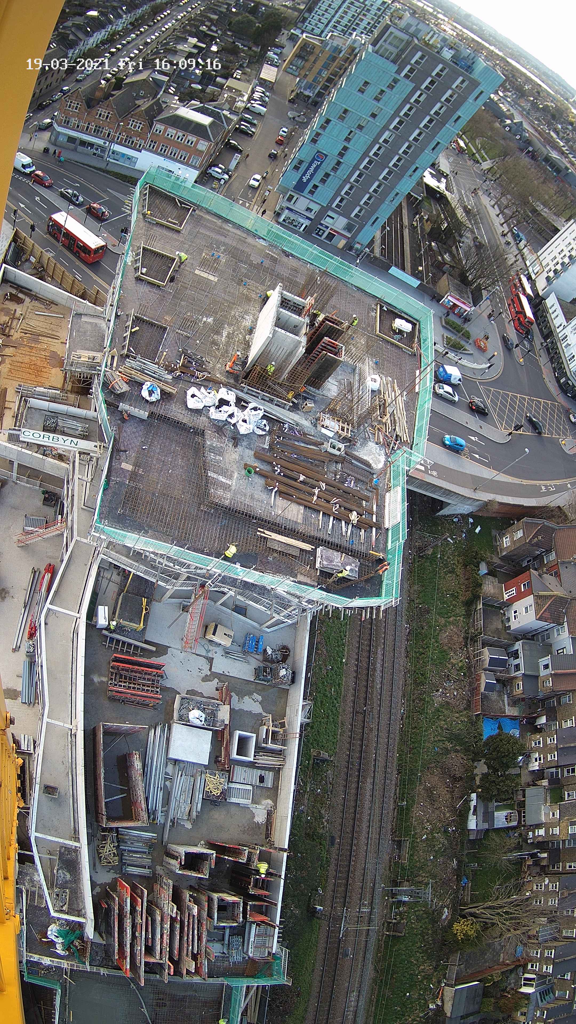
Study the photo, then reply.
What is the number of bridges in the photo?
1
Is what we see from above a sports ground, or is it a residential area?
residential area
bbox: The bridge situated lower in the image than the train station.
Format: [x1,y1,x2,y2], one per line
[392,463,494,515]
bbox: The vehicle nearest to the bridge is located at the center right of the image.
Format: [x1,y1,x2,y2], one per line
[443,435,472,453]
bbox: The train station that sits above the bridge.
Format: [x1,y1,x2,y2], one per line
[370,168,474,299]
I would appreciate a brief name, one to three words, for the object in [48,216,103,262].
bus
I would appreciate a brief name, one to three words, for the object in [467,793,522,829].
shed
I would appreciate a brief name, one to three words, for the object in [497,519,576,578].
house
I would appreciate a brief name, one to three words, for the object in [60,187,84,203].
car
